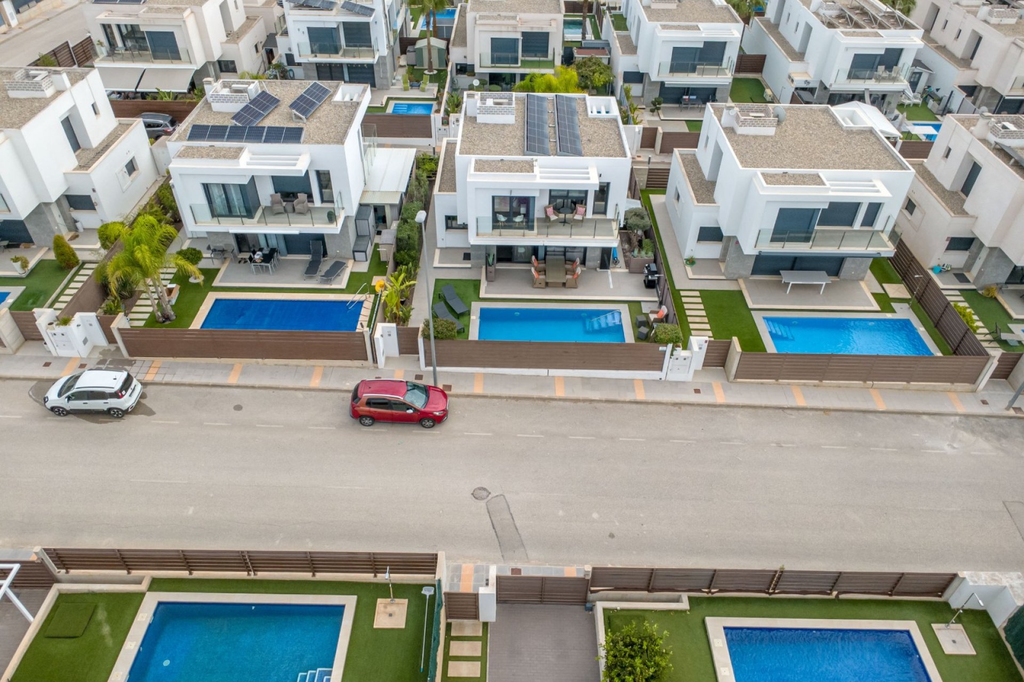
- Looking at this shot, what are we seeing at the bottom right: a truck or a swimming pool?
swimming pool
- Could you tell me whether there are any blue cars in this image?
No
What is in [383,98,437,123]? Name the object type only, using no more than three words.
swimming pool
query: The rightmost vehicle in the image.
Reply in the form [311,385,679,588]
[346,378,450,430]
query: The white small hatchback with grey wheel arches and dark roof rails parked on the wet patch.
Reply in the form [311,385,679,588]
[41,367,143,418]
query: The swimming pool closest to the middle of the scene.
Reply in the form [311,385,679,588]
[469,302,636,343]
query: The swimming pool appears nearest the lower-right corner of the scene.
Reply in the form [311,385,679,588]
[707,617,942,682]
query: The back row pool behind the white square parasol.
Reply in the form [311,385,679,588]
[900,121,945,137]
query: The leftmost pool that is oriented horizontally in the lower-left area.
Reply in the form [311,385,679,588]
[108,591,357,682]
